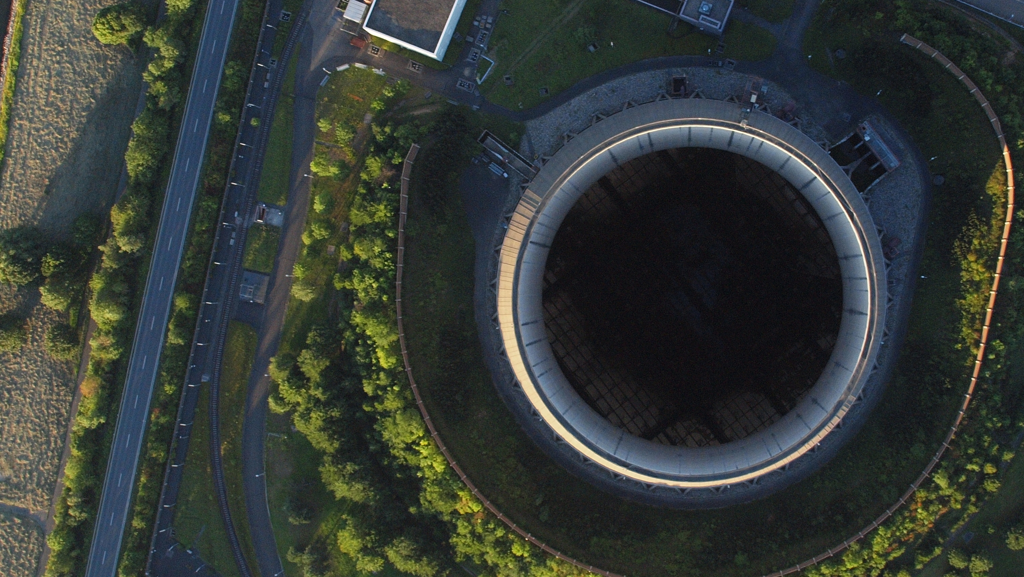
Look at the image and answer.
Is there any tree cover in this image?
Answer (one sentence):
Yes, there is tree cover in the image.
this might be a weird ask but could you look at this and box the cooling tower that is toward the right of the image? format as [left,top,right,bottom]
[486,86,899,499]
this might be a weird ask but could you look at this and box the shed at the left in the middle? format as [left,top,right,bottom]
[239,271,272,303]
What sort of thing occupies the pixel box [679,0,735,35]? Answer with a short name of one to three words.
building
